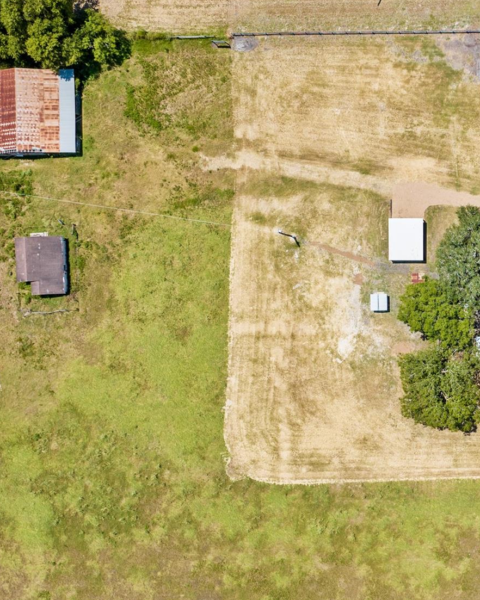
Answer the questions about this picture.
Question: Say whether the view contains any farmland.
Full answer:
Yes, the picture does contain farmland.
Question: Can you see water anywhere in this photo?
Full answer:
No, there is no water in the image.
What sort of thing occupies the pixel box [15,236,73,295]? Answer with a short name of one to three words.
house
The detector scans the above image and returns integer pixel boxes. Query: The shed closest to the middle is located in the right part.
[370,293,390,310]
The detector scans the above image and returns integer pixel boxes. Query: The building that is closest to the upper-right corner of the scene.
[389,218,426,261]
